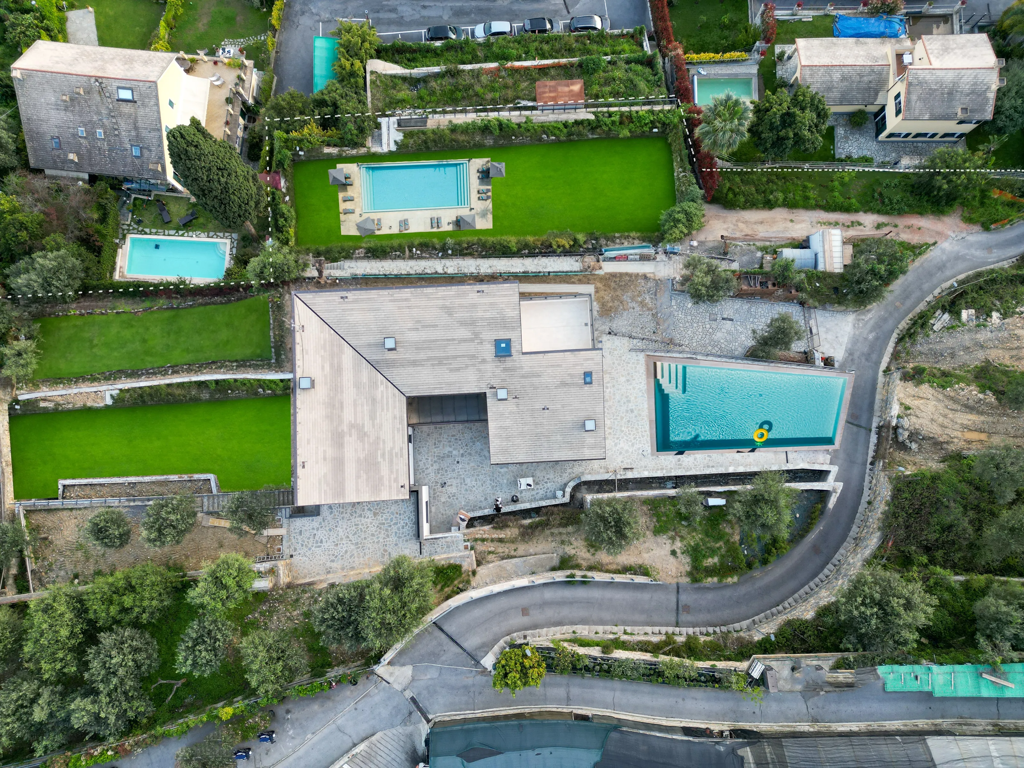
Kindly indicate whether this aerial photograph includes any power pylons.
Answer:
No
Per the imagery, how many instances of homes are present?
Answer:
3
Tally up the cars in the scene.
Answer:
4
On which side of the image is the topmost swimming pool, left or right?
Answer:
right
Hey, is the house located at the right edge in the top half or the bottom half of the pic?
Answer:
top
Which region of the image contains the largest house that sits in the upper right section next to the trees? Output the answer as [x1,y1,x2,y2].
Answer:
[786,32,1012,141]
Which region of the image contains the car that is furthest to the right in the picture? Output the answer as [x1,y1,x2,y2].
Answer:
[568,7,612,32]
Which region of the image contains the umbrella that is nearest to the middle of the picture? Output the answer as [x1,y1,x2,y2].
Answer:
[459,214,477,232]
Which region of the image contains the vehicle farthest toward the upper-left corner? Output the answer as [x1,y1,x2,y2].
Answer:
[424,17,465,41]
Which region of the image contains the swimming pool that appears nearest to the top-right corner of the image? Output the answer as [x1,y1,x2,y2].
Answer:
[690,72,757,113]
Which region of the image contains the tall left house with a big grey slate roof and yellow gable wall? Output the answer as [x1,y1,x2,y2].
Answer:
[5,39,255,196]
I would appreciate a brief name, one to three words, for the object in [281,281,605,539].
house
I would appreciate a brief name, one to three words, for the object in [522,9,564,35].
car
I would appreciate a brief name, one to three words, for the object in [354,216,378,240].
umbrella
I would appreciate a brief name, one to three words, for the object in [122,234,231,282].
swimming pool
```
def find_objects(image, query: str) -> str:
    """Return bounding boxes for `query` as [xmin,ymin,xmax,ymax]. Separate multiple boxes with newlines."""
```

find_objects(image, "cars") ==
[424,17,465,41]
[522,9,564,35]
[473,14,515,38]
[568,7,612,32]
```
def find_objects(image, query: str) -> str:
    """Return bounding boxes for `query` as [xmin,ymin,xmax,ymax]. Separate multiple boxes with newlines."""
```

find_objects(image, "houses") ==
[281,281,605,539]
[786,32,1012,141]
[5,39,255,196]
